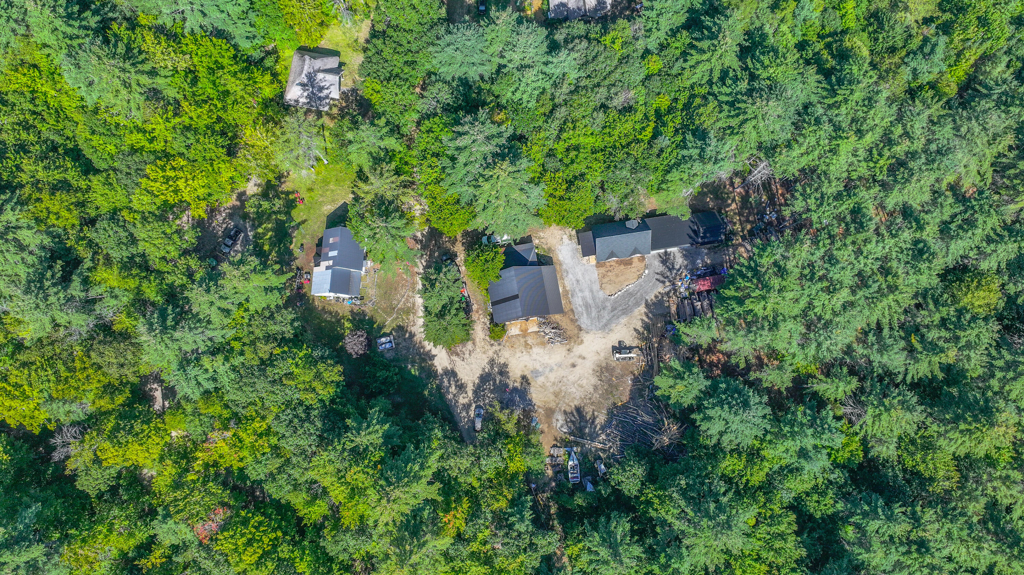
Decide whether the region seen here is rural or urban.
rural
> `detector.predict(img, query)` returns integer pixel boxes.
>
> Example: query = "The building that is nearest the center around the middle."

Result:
[486,265,563,323]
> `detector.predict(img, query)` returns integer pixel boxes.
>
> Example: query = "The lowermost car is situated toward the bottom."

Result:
[472,407,485,436]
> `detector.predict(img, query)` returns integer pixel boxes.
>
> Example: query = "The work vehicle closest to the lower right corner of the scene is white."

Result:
[612,347,652,362]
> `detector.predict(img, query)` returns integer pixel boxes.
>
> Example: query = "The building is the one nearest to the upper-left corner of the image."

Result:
[284,51,348,113]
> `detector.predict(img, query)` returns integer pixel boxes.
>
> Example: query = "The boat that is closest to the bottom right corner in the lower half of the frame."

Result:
[596,461,609,480]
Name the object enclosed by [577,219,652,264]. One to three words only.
house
